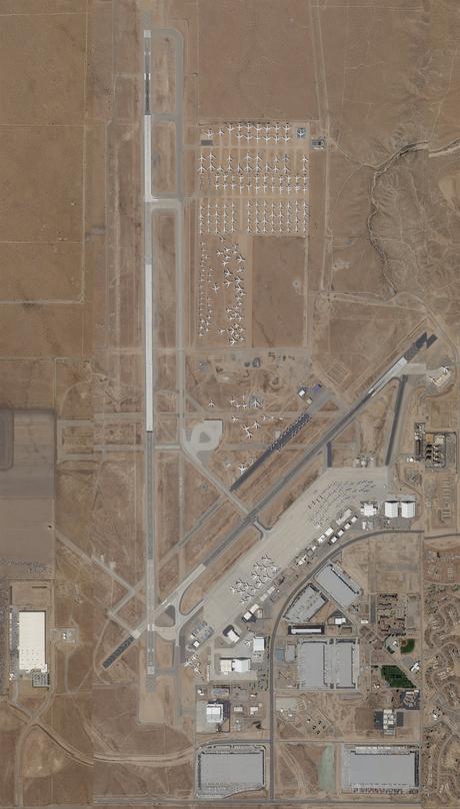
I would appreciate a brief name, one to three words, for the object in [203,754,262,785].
building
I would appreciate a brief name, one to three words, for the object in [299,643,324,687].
building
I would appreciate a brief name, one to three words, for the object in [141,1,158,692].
runway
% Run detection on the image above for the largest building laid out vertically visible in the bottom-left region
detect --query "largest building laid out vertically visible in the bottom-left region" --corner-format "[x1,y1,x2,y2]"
[20,612,47,672]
